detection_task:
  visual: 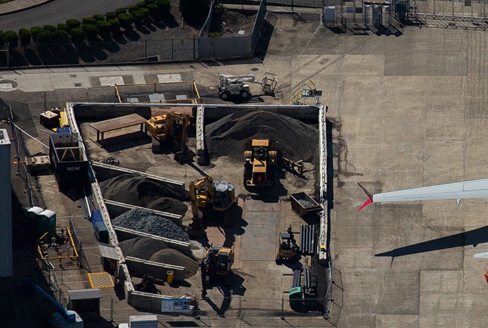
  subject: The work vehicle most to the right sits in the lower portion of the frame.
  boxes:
[275,230,298,267]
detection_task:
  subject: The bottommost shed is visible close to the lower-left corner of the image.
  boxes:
[68,294,102,326]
